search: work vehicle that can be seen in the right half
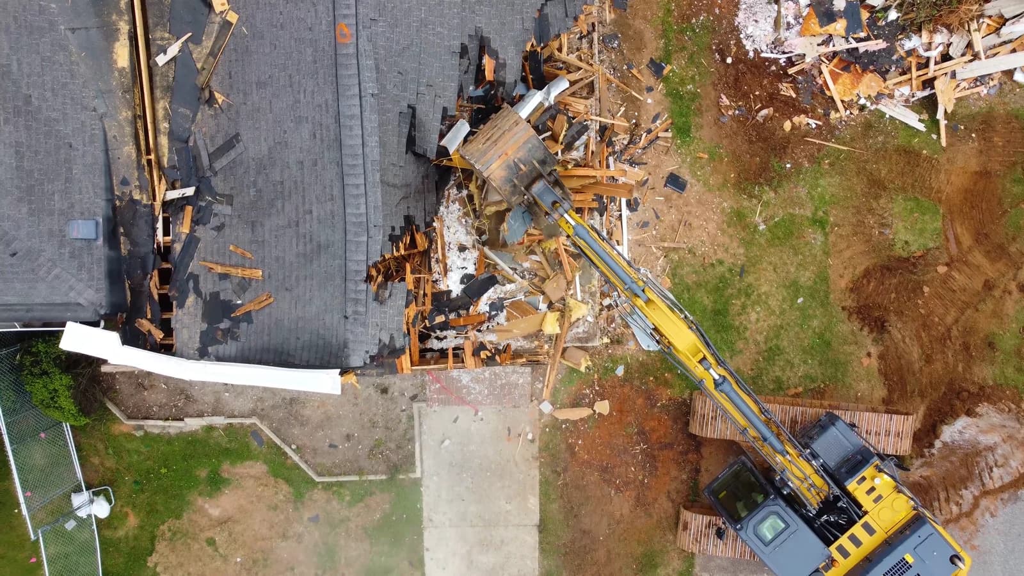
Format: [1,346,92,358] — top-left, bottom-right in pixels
[449,105,974,576]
